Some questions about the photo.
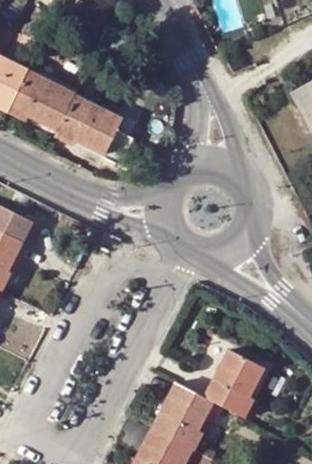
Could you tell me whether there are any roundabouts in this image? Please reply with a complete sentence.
Yes, you can see a roundabout in this photo.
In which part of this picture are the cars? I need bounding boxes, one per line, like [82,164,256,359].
[109,334,122,353]
[92,319,107,338]
[70,354,84,374]
[66,294,78,312]
[119,312,131,329]
[60,378,74,396]
[294,226,306,244]
[132,290,144,308]
[50,402,64,422]
[18,446,40,462]
[24,375,38,394]
[70,406,84,424]
[55,321,68,340]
